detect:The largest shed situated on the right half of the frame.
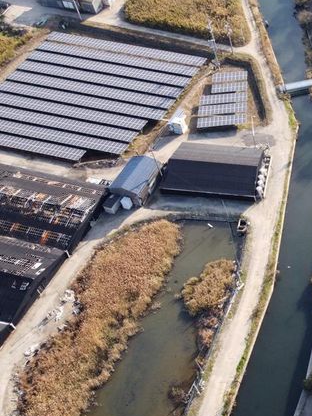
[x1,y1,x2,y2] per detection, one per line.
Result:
[160,142,264,205]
